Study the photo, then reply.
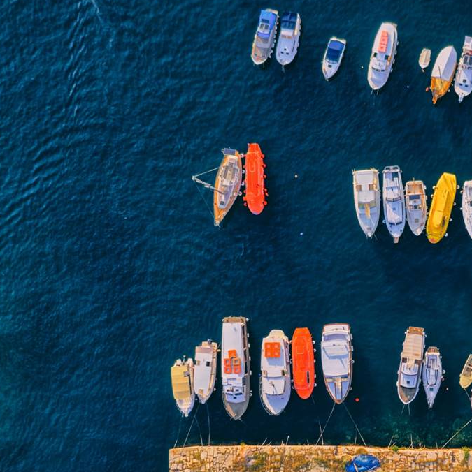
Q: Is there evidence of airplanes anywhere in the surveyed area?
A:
No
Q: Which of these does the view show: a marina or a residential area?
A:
marina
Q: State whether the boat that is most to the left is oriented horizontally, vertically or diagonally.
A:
vertically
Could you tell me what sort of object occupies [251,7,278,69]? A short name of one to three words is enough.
boat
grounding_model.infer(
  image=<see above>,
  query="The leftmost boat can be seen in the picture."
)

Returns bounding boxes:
[171,356,197,425]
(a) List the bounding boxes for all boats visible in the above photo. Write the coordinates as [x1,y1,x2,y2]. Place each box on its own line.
[418,48,432,68]
[404,180,428,237]
[454,32,472,102]
[422,344,443,409]
[251,7,278,69]
[218,317,252,422]
[352,170,383,240]
[260,326,292,417]
[190,148,242,229]
[321,324,355,405]
[460,354,472,388]
[426,172,460,244]
[290,328,317,399]
[366,22,399,96]
[460,180,472,238]
[426,46,457,110]
[323,36,346,81]
[381,167,406,245]
[243,143,268,215]
[171,356,197,425]
[396,326,428,419]
[196,339,218,415]
[275,8,303,69]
